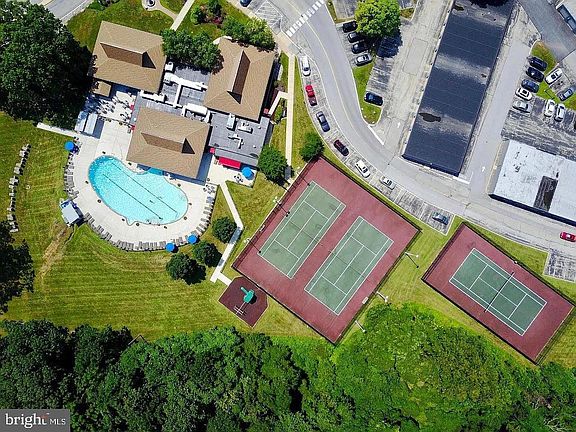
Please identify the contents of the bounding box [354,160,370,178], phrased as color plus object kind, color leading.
white car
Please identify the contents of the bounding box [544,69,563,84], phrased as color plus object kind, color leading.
white car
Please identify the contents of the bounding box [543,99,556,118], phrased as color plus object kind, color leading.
white vehicle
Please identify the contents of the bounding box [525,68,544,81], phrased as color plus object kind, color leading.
black vehicle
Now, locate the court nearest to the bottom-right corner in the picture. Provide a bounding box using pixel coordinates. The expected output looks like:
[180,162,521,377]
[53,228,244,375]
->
[424,225,576,362]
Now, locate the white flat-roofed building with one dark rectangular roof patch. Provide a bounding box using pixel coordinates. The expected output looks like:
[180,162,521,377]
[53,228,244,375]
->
[486,139,576,225]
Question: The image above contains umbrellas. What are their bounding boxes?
[242,166,253,178]
[65,141,76,151]
[166,242,176,253]
[188,234,198,244]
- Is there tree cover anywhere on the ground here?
Yes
